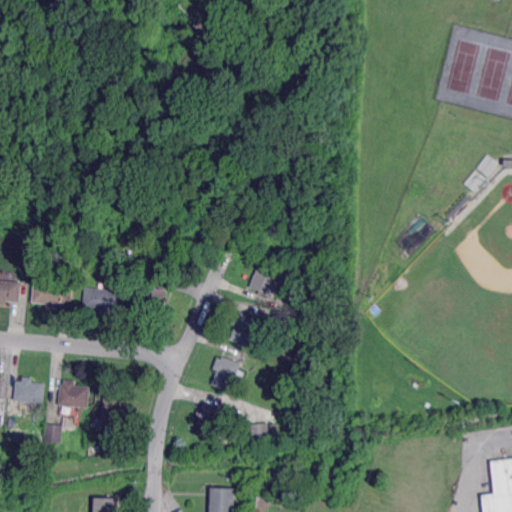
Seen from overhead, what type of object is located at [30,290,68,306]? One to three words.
house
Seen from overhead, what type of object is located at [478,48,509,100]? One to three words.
tennis court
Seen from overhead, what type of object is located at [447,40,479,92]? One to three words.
tennis court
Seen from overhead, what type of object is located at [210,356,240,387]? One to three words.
house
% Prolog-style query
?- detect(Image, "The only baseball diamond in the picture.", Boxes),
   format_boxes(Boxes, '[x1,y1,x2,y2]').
[366,175,512,405]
